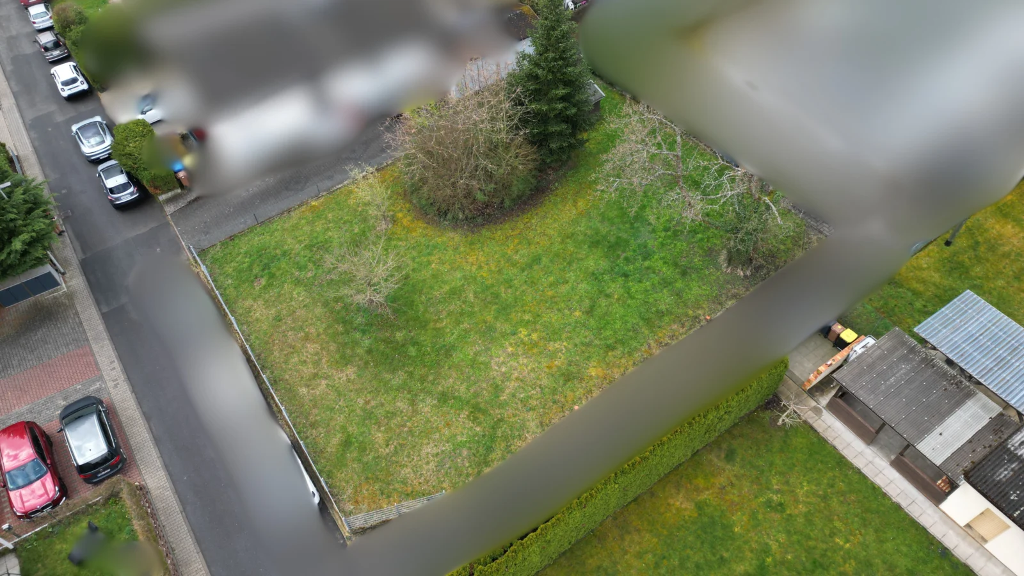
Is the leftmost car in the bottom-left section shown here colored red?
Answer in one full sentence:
Yes, red is the color of the leftmost car in the bottom-left section.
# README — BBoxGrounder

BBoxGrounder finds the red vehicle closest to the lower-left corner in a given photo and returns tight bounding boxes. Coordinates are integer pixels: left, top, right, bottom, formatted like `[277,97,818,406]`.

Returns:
[4,415,67,519]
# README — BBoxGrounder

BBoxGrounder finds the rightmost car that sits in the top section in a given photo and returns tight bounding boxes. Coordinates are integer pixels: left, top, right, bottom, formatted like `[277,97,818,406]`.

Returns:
[140,84,198,127]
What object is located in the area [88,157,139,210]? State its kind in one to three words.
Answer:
car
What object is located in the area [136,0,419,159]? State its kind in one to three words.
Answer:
house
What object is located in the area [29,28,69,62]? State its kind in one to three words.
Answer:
car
